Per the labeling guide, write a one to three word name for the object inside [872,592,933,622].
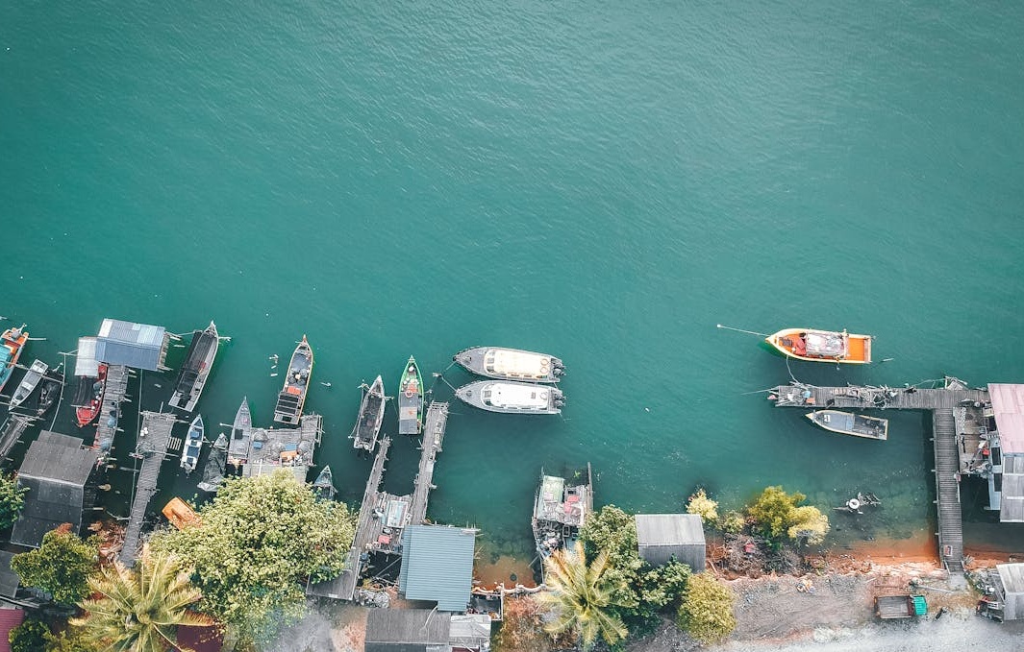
truck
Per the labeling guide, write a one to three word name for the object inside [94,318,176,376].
shed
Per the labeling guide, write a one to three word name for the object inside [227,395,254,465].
boat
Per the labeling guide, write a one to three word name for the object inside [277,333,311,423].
boat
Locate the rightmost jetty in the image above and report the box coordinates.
[775,380,989,566]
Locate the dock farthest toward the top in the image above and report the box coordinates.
[95,365,136,457]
